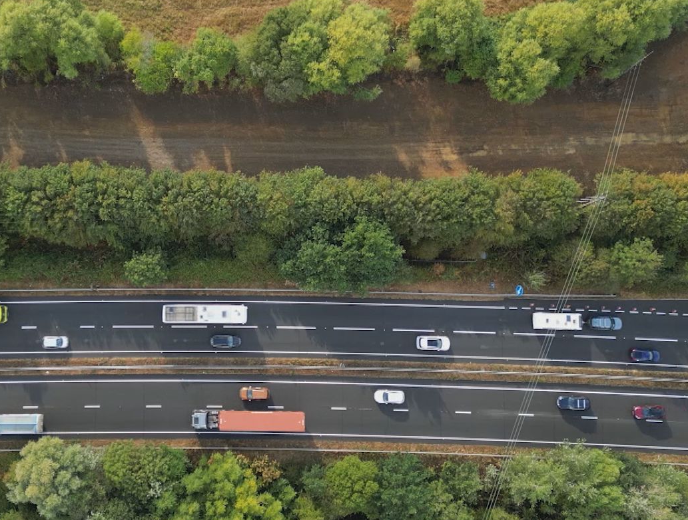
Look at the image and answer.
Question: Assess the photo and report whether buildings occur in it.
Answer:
No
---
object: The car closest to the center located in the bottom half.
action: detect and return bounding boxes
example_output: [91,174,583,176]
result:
[415,336,450,352]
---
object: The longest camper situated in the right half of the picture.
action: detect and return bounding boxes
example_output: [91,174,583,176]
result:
[529,312,585,330]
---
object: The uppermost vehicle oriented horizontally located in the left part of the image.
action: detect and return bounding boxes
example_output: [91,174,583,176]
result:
[162,304,247,326]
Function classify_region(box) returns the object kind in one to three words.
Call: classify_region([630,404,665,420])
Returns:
car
